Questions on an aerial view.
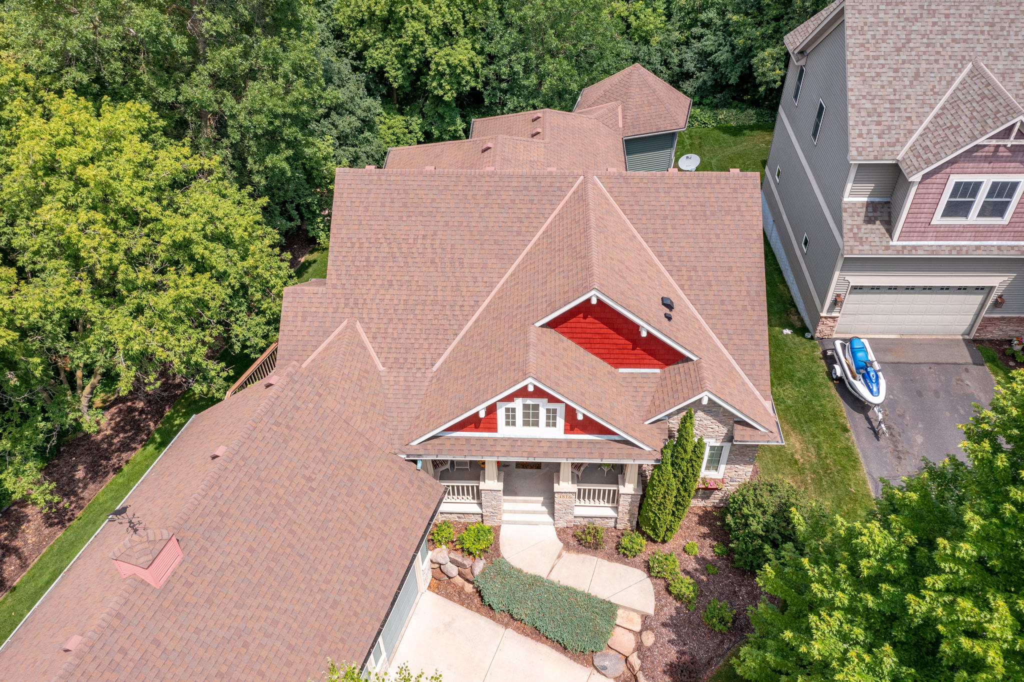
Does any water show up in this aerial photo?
No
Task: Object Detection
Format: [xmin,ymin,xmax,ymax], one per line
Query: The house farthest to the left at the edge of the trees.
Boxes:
[0,62,786,682]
